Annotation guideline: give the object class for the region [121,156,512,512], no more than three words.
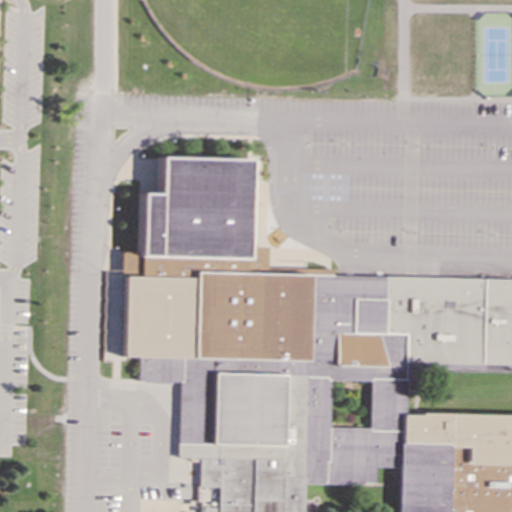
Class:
building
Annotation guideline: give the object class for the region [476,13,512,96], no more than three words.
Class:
tennis court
